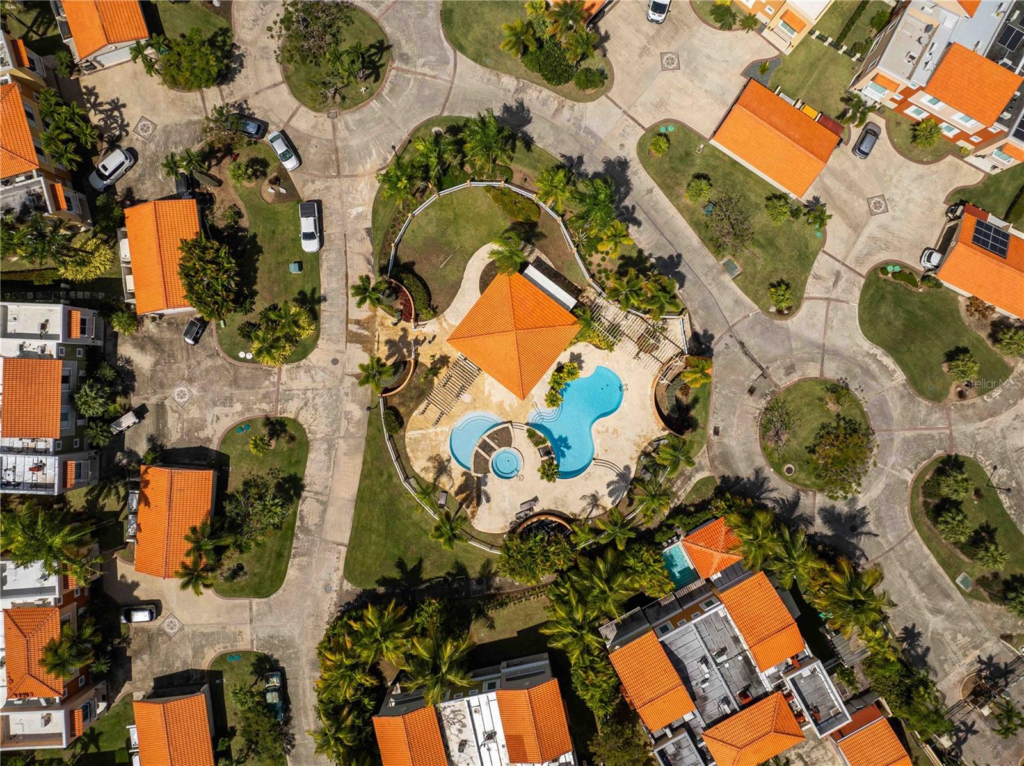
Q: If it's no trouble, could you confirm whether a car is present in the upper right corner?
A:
Yes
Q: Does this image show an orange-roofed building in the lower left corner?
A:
Yes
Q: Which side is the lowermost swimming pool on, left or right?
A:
right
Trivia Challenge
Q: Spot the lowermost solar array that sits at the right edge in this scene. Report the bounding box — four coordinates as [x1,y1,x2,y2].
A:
[973,220,1011,257]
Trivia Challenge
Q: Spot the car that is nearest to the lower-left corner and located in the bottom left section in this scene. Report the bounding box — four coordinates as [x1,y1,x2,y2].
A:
[119,603,161,625]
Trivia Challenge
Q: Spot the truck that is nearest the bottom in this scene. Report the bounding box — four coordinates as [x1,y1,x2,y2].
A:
[263,670,285,720]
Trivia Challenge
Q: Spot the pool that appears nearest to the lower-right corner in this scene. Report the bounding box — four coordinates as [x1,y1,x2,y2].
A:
[660,542,699,590]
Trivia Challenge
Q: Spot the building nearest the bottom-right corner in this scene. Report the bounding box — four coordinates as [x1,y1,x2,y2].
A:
[952,666,1011,716]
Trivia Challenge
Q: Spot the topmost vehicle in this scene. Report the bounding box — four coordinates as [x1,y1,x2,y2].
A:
[648,0,670,29]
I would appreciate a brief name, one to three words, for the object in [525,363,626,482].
swimming pool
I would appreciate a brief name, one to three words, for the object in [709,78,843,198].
building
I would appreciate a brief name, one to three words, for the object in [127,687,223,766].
building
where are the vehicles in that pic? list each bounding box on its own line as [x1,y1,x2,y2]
[71,58,99,78]
[263,670,285,720]
[941,203,966,221]
[119,603,161,625]
[196,187,216,211]
[92,150,135,191]
[648,0,670,29]
[917,248,944,268]
[174,170,197,200]
[180,321,203,343]
[299,202,321,253]
[230,115,271,140]
[850,119,880,163]
[268,131,300,173]
[109,410,144,433]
